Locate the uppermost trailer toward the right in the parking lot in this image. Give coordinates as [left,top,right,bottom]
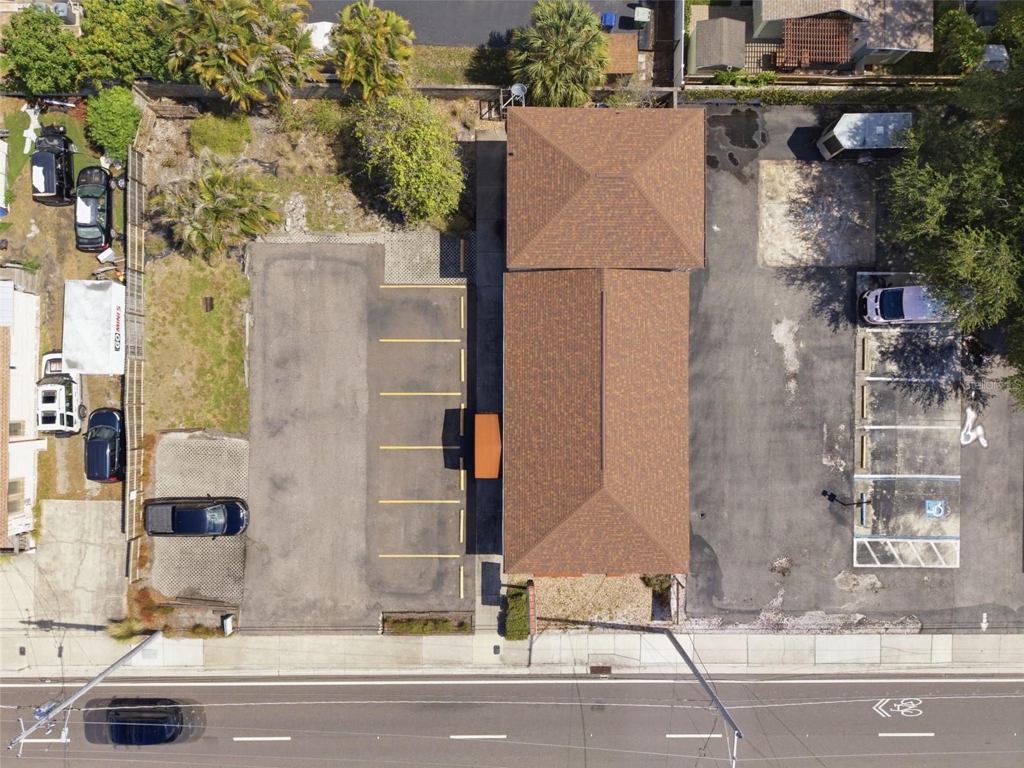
[797,112,913,165]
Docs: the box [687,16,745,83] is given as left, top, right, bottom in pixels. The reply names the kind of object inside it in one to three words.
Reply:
shed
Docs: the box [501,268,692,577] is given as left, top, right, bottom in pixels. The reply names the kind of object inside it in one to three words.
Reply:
building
